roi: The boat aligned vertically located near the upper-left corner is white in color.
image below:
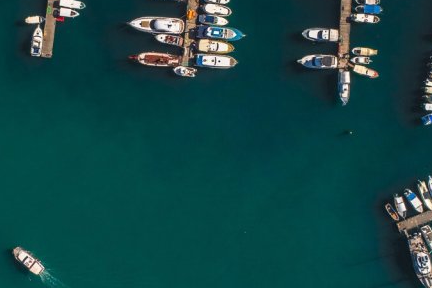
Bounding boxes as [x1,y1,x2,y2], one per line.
[31,23,43,59]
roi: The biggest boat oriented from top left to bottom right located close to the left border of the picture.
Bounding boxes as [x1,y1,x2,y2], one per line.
[14,247,46,277]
